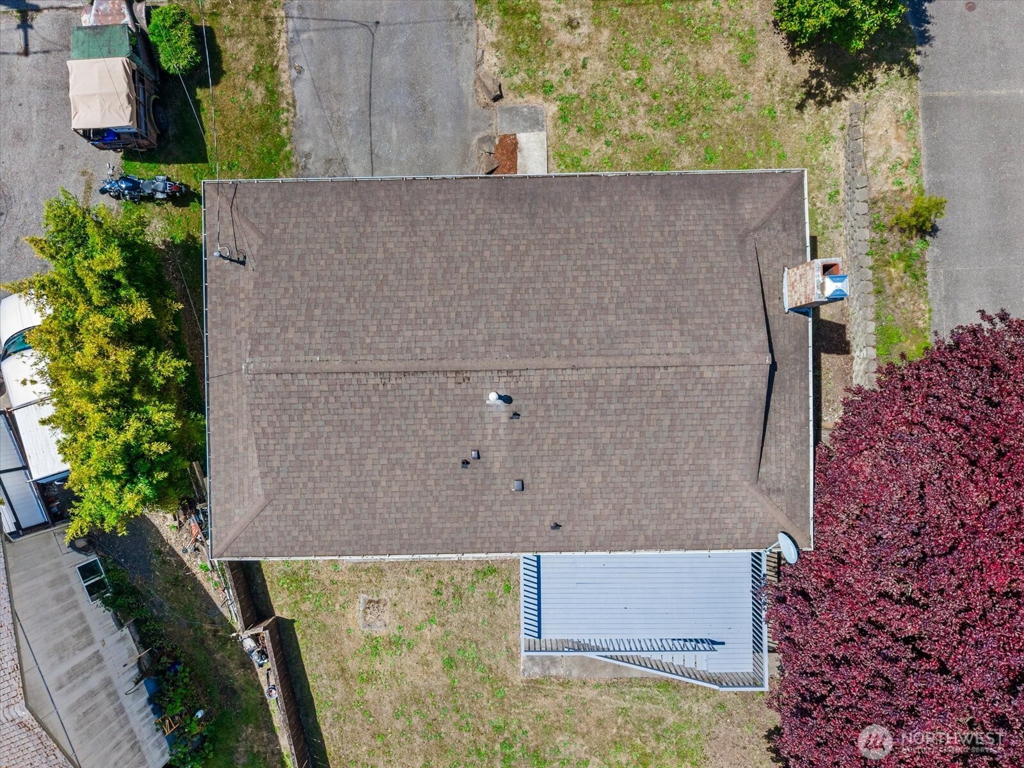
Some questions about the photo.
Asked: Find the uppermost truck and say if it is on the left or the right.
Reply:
left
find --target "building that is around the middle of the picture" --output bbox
[202,168,847,562]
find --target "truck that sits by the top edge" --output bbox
[66,0,174,157]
